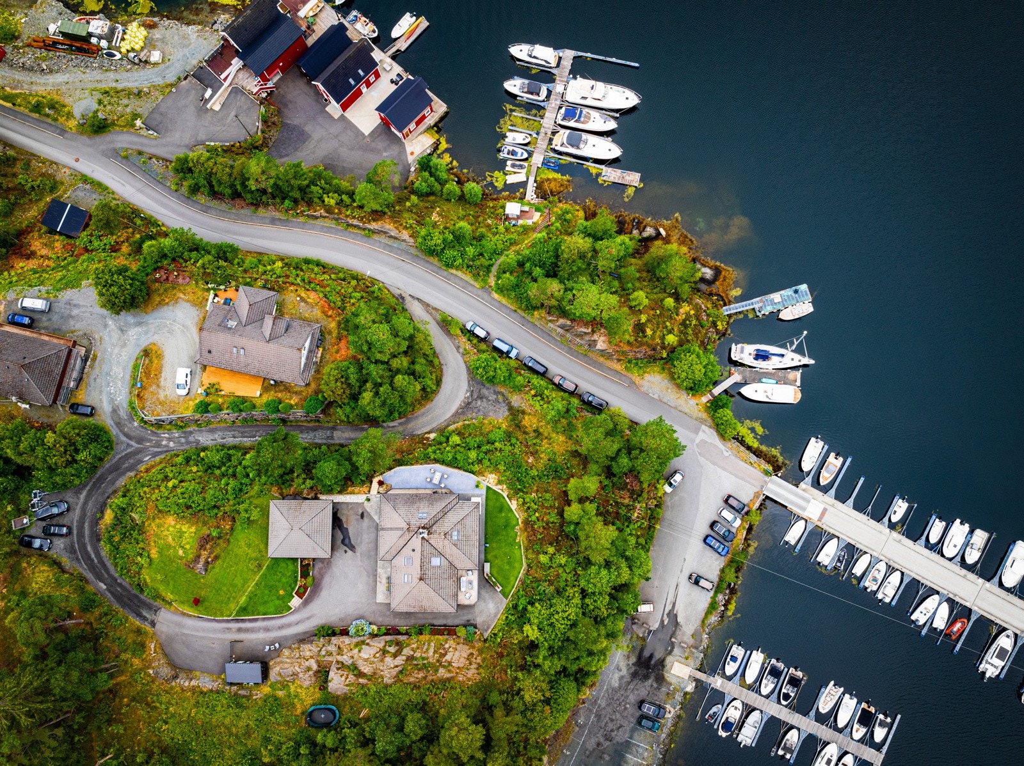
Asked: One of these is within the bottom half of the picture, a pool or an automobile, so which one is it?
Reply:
automobile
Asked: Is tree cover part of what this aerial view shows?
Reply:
Yes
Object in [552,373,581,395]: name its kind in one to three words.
car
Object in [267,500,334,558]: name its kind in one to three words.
building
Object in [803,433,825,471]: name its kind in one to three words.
boat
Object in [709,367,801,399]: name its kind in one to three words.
pier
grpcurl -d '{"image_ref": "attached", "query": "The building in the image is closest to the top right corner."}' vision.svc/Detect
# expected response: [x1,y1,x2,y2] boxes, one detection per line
[505,202,541,225]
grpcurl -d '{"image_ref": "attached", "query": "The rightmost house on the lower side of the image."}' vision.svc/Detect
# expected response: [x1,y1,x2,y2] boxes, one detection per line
[378,489,481,613]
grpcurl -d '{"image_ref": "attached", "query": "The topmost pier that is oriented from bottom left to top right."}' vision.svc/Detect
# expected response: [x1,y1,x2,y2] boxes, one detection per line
[388,16,430,54]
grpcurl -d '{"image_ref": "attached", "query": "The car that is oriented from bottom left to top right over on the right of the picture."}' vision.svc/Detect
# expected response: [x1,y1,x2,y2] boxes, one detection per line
[662,467,687,495]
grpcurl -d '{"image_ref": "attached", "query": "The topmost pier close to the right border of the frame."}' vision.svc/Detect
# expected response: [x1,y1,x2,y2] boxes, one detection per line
[763,446,1024,690]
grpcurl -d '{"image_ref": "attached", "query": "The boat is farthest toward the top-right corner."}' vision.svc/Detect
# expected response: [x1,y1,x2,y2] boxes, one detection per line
[778,299,815,318]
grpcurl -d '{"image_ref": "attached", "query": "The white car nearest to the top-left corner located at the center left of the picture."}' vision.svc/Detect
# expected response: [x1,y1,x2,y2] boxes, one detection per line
[18,297,51,312]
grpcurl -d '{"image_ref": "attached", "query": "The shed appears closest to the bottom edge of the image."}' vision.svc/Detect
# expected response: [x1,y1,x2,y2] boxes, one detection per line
[226,662,265,683]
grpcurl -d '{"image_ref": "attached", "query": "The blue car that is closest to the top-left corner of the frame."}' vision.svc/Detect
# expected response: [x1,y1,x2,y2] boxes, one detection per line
[5,312,36,327]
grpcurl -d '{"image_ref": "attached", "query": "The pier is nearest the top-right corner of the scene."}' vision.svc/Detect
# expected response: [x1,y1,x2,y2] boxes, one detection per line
[725,284,812,316]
